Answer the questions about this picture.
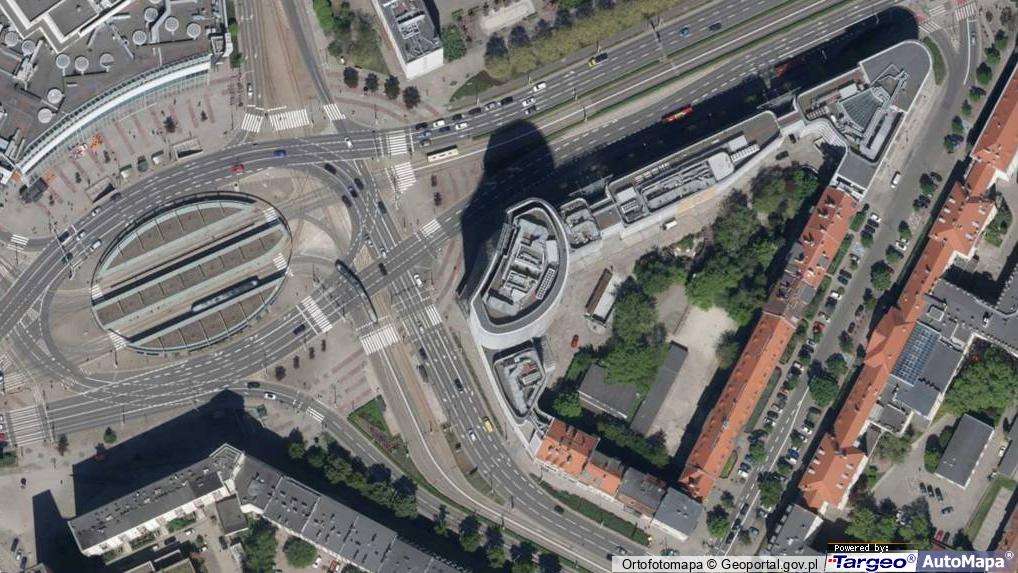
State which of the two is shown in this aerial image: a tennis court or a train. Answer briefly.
train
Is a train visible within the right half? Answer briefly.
No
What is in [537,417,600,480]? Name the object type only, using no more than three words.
house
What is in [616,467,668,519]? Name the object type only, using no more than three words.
house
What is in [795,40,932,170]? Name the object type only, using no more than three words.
building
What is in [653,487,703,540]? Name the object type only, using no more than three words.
building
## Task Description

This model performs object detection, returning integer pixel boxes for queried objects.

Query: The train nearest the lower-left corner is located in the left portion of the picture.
[193,281,257,312]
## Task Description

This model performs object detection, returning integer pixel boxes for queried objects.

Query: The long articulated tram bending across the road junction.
[340,266,377,319]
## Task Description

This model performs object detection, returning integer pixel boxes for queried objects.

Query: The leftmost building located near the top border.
[0,0,230,190]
